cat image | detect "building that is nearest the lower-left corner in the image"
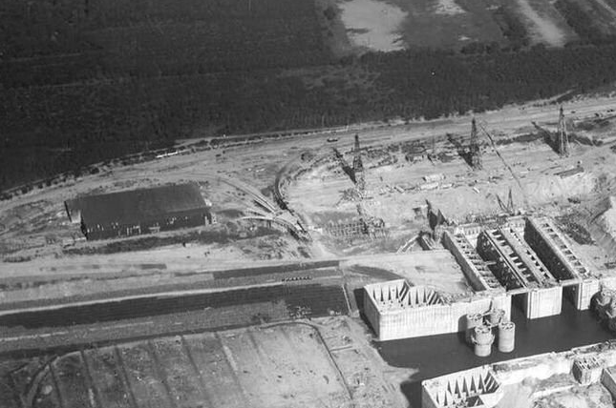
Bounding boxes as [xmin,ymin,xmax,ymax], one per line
[66,184,210,240]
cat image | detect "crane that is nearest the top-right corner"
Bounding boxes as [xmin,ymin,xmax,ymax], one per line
[480,122,537,212]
